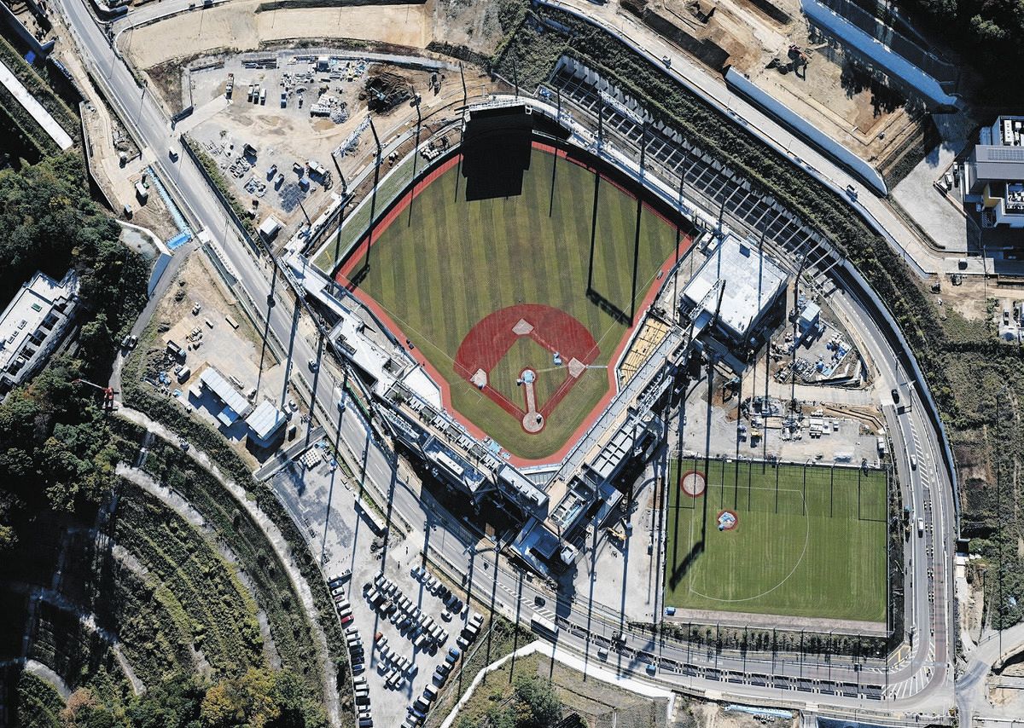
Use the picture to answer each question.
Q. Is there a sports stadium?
Yes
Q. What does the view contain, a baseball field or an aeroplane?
baseball field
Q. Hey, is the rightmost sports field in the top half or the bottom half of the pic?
bottom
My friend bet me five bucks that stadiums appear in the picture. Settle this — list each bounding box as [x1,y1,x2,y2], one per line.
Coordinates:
[283,94,748,586]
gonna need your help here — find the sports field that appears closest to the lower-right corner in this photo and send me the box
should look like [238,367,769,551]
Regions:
[665,459,887,623]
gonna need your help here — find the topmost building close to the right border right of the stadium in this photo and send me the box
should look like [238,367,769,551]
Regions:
[970,116,1024,223]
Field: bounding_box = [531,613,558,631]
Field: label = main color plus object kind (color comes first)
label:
white vehicle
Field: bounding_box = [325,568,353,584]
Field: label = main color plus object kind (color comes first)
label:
white vehicle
